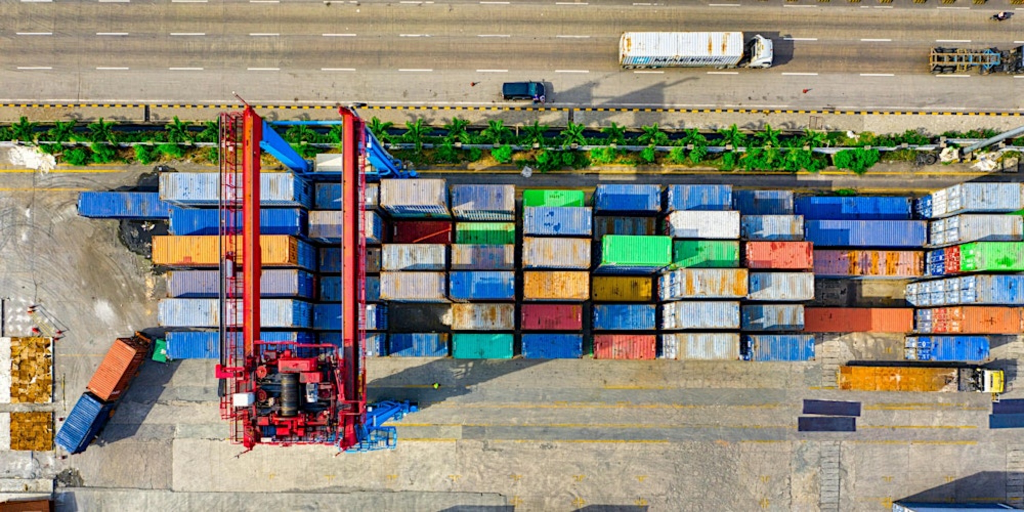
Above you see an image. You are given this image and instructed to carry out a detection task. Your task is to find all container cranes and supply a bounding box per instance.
[216,91,424,460]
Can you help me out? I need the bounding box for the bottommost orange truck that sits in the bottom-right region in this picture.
[835,365,1003,399]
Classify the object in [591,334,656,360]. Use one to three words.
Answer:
shipping container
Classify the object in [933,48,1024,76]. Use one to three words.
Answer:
truck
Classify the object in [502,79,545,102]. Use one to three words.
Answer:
car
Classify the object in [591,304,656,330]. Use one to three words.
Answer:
shipping container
